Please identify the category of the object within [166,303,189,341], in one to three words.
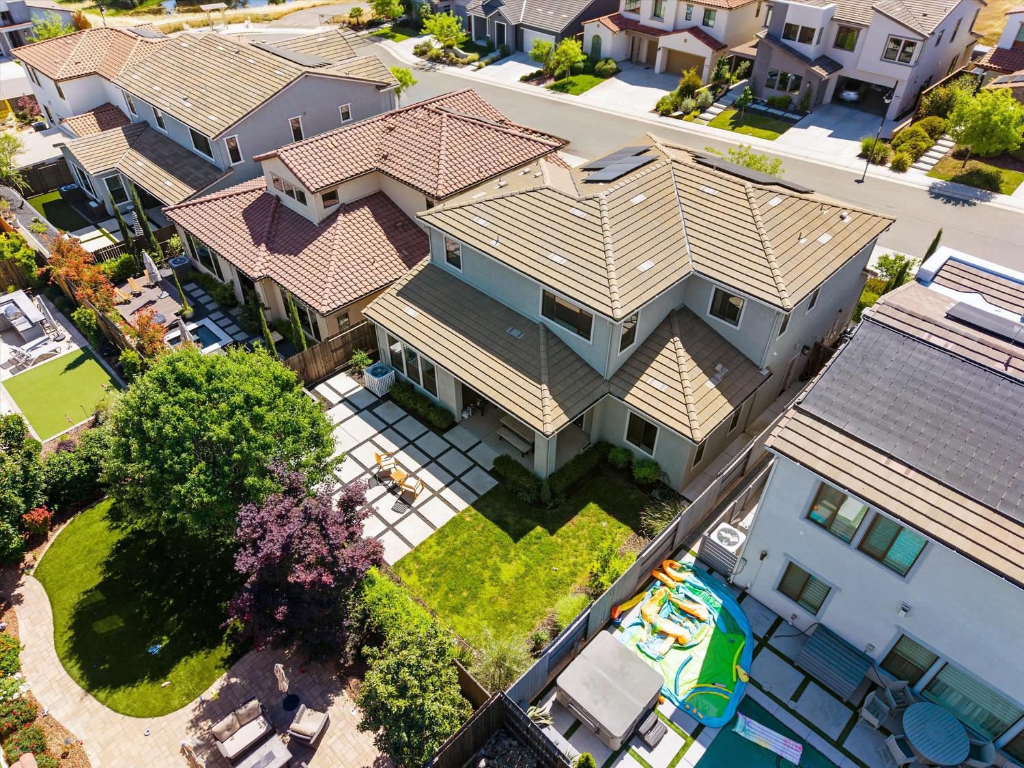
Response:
umbrella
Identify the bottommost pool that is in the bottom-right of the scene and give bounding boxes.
[697,698,838,768]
